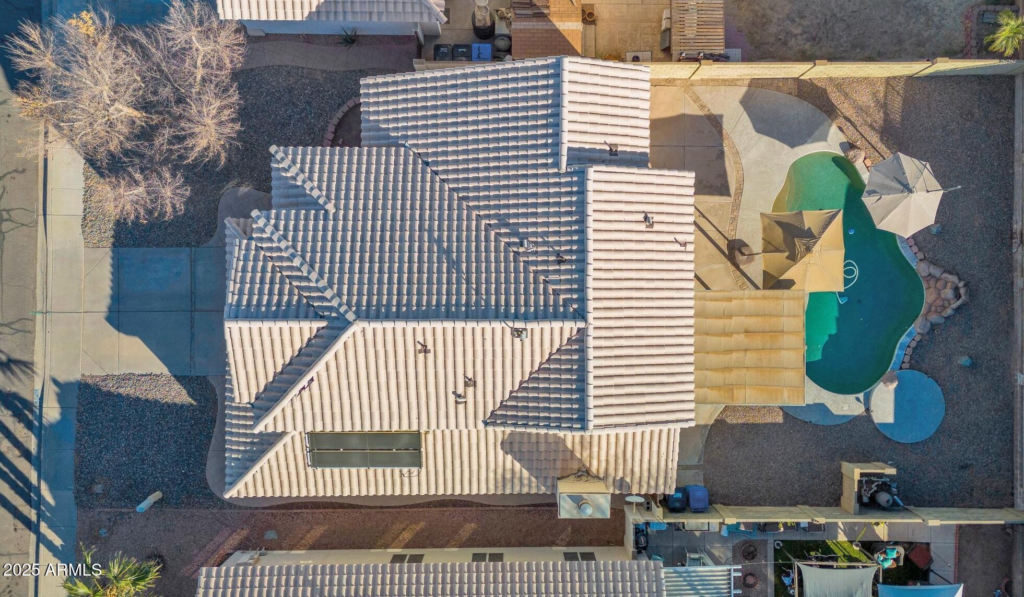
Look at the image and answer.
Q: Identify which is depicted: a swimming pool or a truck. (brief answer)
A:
swimming pool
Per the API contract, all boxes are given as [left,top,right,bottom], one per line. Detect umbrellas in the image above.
[729,210,844,292]
[861,153,963,238]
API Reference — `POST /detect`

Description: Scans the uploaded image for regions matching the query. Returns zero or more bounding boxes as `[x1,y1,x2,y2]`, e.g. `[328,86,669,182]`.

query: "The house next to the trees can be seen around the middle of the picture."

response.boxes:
[223,56,697,520]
